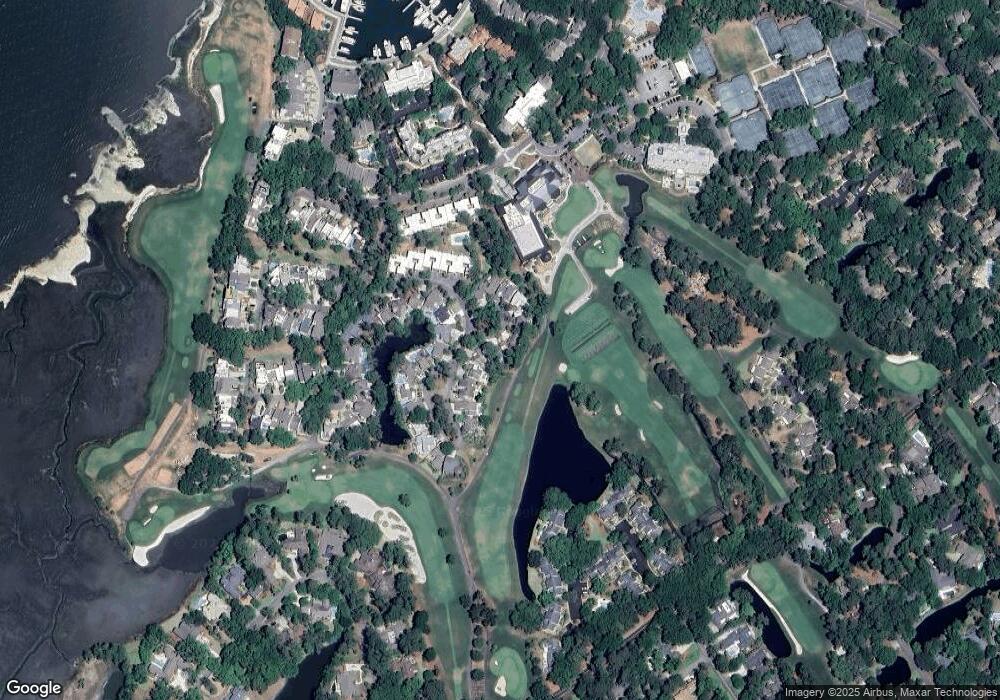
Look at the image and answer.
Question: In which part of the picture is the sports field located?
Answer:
top right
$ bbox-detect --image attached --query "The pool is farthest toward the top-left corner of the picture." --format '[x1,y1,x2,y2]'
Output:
[357,146,376,163]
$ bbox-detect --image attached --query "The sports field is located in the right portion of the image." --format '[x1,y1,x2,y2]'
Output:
[710,21,771,77]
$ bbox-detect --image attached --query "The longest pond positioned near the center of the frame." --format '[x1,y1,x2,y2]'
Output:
[374,318,431,445]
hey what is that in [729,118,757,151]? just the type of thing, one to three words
tennis court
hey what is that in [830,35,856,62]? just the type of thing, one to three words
tennis court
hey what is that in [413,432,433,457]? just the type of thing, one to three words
house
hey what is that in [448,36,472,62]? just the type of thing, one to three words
building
